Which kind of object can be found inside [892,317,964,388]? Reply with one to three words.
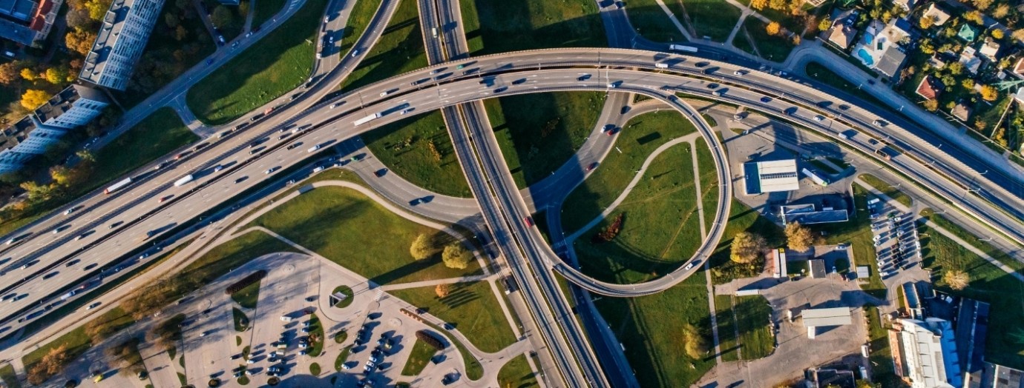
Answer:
building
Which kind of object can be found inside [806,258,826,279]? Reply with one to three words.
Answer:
shed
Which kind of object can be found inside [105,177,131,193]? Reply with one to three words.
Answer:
vehicle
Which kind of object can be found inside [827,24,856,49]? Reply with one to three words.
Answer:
house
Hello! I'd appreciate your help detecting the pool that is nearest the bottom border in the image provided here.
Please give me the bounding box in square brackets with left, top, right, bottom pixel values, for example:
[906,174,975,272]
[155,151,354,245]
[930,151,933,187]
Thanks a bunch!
[858,48,874,65]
